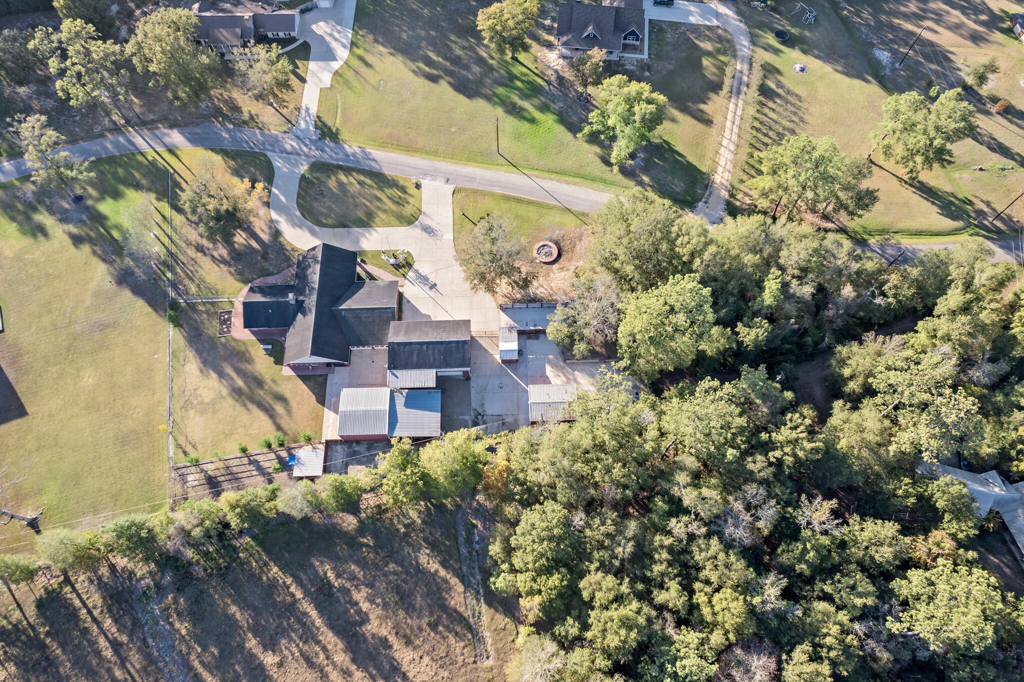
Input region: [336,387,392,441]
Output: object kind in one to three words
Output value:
shed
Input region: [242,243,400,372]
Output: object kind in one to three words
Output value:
house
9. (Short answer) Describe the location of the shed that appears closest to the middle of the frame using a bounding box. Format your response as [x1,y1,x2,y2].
[499,327,517,365]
